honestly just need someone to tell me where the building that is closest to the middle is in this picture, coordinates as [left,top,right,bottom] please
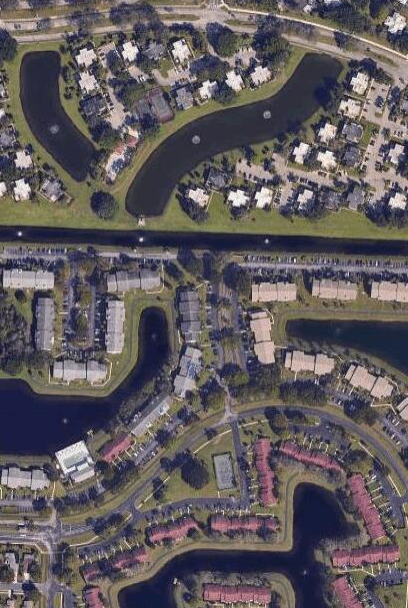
[179,292,203,343]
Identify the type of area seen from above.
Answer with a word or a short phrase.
residential area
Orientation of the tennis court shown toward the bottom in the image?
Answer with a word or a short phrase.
from top to bottom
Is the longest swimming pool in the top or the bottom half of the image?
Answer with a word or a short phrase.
top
